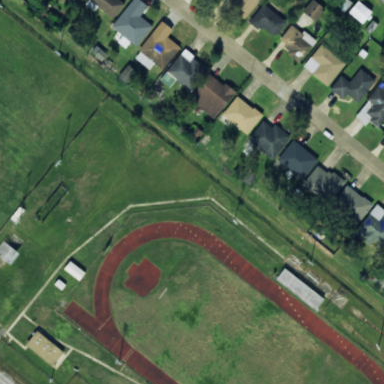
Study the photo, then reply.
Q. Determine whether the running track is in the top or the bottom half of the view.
bottom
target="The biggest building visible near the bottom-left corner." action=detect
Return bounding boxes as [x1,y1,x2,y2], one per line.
[28,332,64,367]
